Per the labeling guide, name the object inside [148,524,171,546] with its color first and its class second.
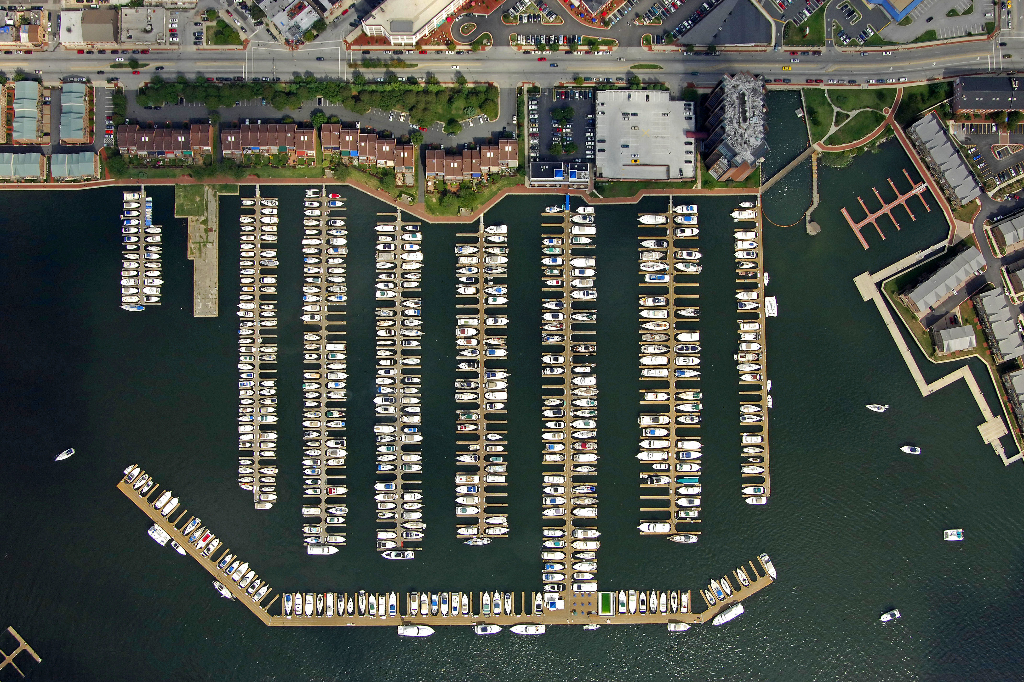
white boat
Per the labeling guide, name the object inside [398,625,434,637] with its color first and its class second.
white boat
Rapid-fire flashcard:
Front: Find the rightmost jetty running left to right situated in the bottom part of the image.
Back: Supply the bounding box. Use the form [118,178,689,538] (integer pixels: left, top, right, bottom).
[117,465,773,626]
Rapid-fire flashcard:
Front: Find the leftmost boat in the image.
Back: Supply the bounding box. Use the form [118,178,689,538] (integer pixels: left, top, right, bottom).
[52,448,76,461]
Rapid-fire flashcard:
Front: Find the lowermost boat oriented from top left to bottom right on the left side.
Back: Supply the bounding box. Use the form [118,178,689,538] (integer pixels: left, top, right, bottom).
[211,580,235,602]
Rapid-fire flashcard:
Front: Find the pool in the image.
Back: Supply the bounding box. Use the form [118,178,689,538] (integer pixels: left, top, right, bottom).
[597,592,615,616]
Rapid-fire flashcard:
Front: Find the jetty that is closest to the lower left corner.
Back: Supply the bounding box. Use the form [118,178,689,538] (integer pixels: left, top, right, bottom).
[0,627,42,678]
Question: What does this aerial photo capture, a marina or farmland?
marina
